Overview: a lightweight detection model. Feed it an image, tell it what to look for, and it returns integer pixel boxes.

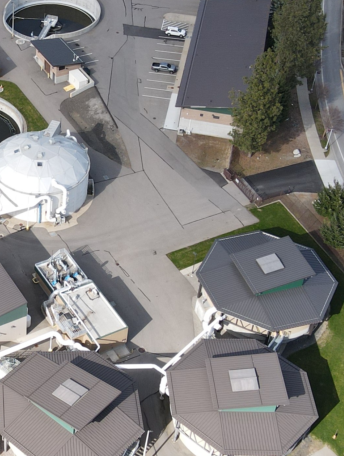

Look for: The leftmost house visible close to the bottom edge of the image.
[0,350,145,456]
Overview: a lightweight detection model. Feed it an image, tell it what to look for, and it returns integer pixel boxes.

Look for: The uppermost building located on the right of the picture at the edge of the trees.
[175,0,270,132]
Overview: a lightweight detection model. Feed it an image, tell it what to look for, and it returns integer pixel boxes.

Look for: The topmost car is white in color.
[165,25,187,38]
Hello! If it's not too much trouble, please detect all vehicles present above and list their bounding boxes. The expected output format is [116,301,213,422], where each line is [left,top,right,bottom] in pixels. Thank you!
[150,61,178,75]
[165,25,187,38]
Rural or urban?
urban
